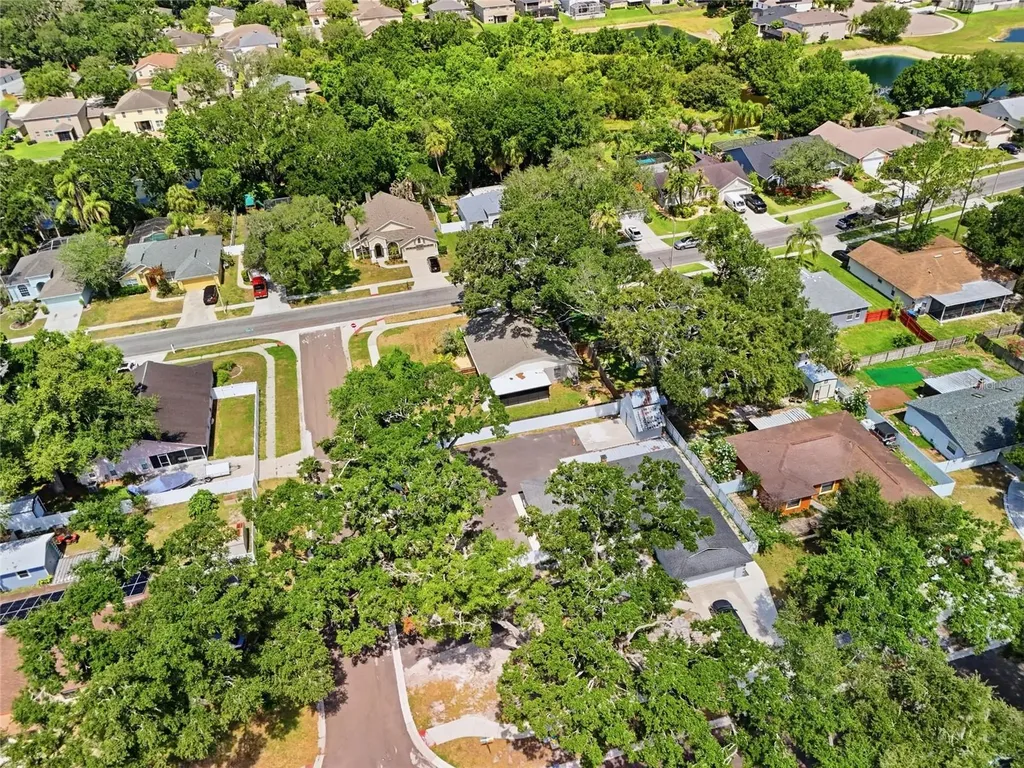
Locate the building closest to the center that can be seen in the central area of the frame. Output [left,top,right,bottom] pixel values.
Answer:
[470,302,583,415]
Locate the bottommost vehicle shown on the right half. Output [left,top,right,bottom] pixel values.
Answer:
[709,590,754,635]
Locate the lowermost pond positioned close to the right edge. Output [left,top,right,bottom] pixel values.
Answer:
[846,55,1007,111]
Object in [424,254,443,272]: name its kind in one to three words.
car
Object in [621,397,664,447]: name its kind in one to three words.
shed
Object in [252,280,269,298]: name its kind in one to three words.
vehicle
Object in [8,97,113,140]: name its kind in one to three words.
house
